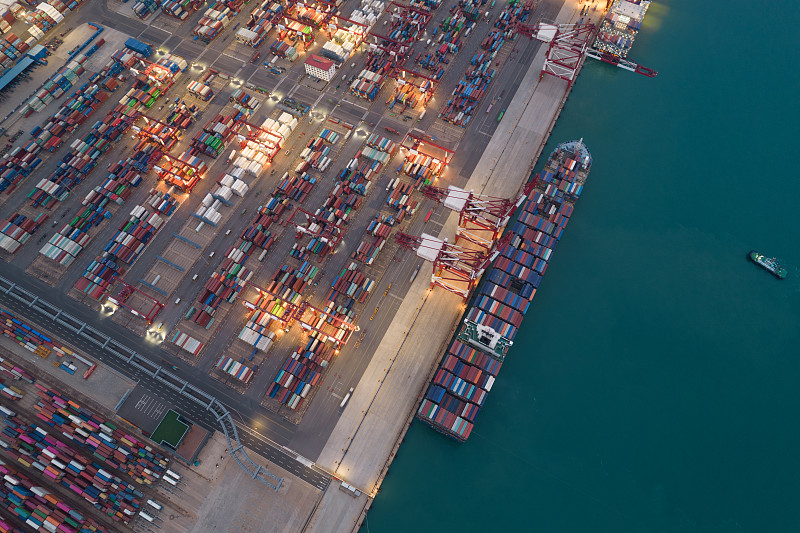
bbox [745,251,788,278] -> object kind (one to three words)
boat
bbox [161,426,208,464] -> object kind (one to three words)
building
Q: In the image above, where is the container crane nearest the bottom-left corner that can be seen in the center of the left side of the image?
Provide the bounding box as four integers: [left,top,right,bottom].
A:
[102,279,170,329]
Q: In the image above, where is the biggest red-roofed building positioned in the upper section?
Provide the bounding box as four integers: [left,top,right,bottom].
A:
[304,54,335,81]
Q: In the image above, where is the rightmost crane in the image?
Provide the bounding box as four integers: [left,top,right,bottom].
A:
[516,22,659,89]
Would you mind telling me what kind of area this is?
port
